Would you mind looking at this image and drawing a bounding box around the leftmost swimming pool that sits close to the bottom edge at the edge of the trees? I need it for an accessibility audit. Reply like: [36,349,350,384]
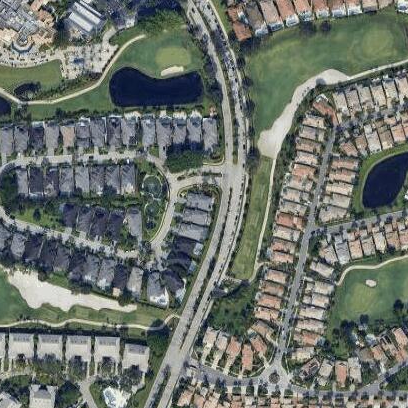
[103,387,131,408]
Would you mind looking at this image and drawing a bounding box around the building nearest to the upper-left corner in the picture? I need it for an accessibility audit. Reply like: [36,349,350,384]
[0,0,59,50]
